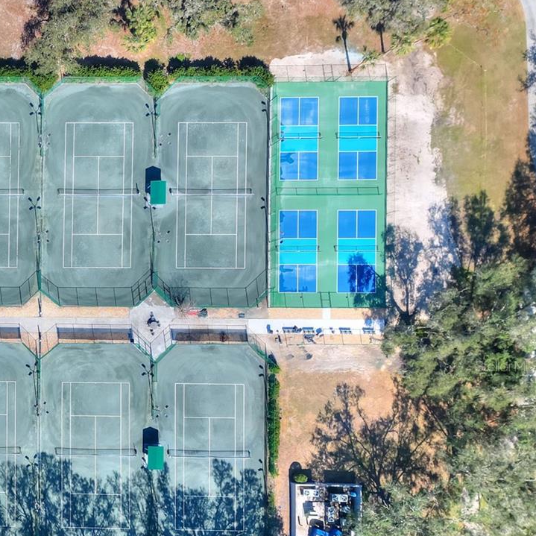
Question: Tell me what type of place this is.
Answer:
sports ground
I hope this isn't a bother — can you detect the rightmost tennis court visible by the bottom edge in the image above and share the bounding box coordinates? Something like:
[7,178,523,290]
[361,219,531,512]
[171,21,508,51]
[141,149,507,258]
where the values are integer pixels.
[151,344,266,536]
